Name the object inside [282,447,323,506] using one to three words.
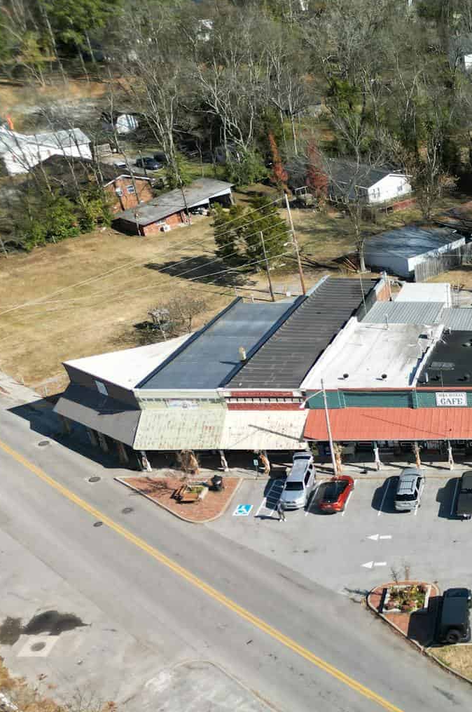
car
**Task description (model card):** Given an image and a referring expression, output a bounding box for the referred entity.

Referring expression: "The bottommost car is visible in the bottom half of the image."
[438,581,472,635]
